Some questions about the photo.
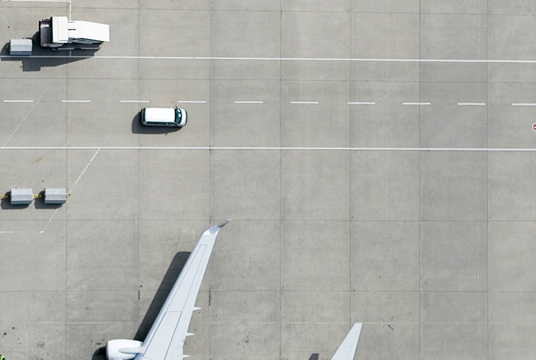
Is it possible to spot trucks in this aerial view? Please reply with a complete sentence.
Yes, the image includes a truck.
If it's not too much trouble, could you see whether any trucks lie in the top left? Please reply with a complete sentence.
Yes, in the top left there is a truck.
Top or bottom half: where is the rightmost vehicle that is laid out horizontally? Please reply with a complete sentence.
It is in the top half that the rightmost vehicle that is laid out horizontally appears.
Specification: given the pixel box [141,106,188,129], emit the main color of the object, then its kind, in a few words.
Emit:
white vehicle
